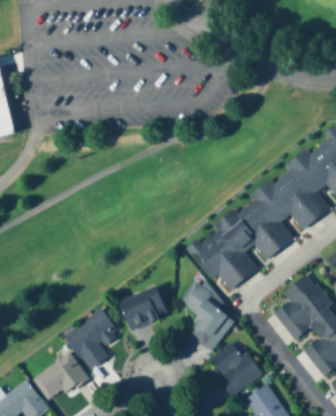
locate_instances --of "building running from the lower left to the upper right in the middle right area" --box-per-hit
[186,124,336,292]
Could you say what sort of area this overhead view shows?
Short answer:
residential area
